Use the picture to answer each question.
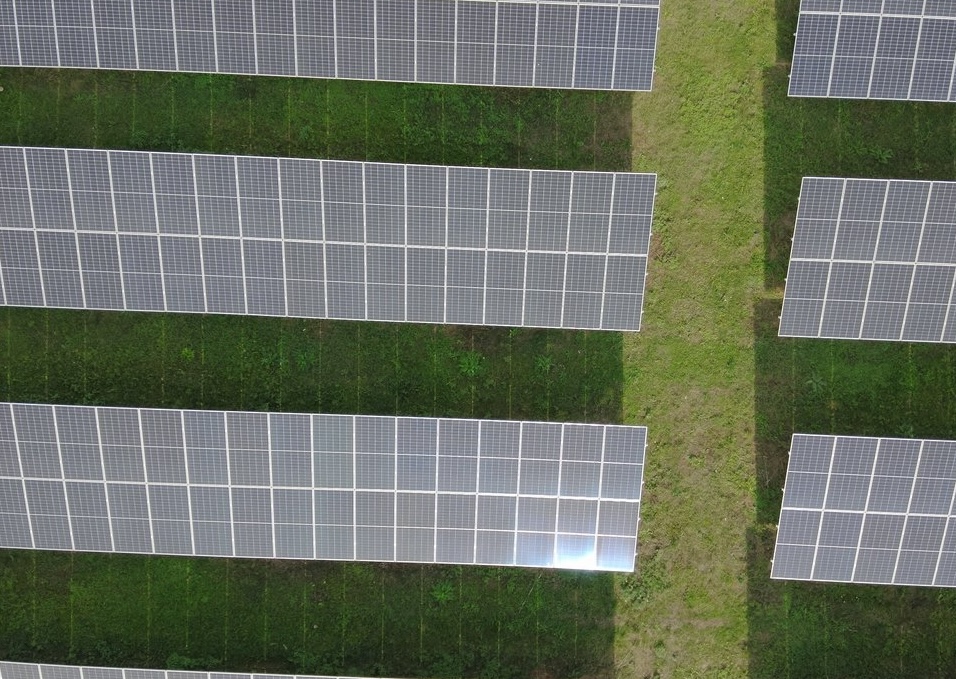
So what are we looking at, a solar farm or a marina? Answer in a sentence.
The picture captures a solar farm.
